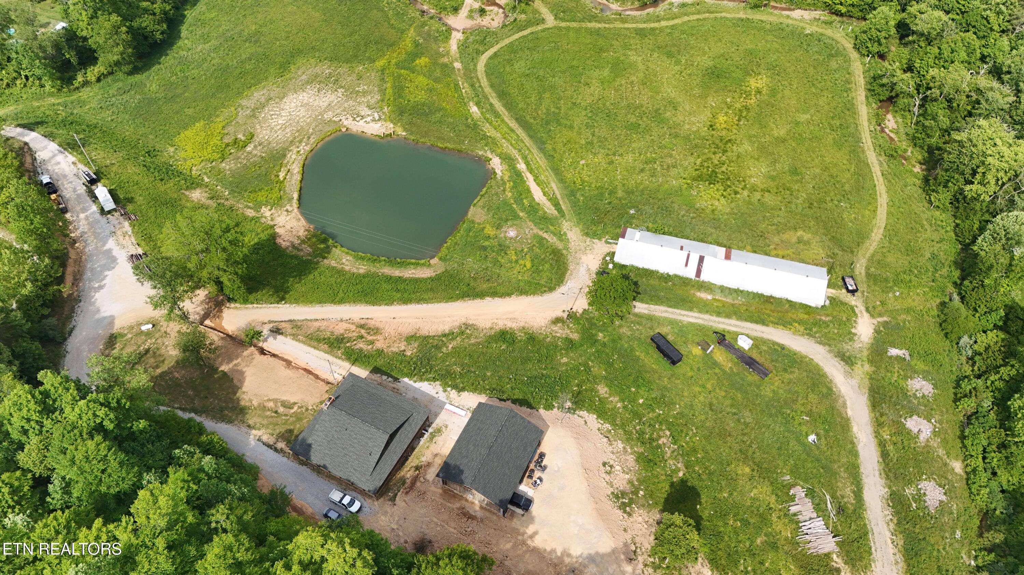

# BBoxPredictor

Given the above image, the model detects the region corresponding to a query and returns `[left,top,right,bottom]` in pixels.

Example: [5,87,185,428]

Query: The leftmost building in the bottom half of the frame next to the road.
[290,372,431,504]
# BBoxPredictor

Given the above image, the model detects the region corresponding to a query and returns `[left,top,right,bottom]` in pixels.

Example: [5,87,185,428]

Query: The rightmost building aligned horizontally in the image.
[614,228,827,314]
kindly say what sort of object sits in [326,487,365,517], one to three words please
truck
